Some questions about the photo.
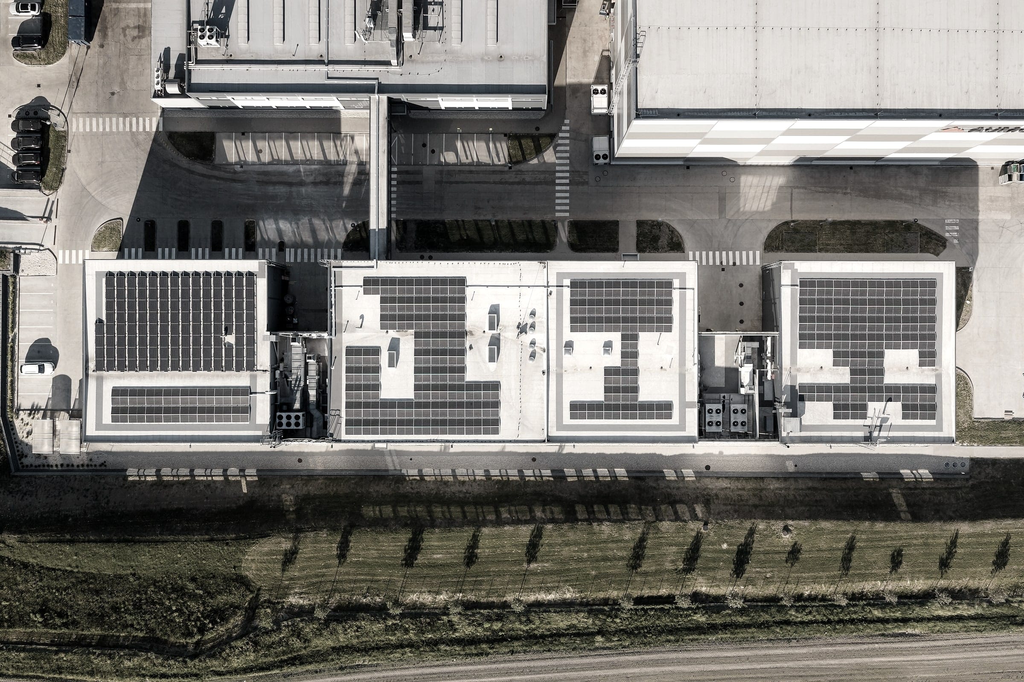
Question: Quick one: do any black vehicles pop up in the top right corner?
No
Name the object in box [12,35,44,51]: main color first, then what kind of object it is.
black car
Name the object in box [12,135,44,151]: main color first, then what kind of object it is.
black car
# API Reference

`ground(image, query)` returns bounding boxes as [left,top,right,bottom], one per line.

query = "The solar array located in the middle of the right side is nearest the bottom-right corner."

[798,281,936,420]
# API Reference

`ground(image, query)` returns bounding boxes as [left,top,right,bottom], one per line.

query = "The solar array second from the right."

[570,281,672,420]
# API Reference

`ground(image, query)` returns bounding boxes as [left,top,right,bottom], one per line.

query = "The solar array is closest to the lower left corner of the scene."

[112,389,250,423]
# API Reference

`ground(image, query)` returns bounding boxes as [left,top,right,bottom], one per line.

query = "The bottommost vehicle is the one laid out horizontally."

[21,361,55,376]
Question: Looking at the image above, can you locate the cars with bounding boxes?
[12,169,44,185]
[12,135,44,151]
[12,118,44,134]
[12,152,43,167]
[21,361,55,376]
[12,35,44,51]
[10,0,42,17]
